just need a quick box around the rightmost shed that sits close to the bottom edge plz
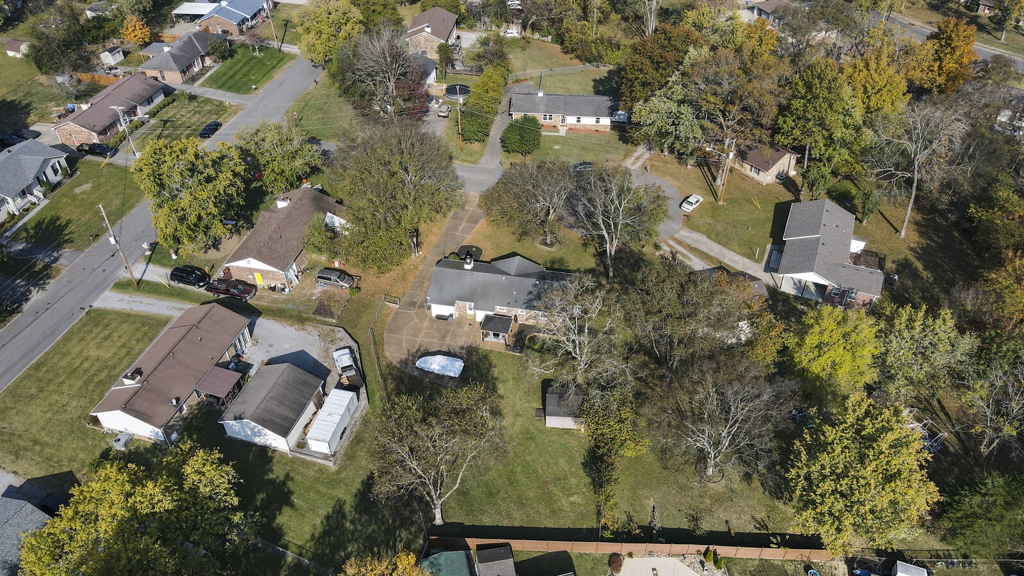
[476,545,516,576]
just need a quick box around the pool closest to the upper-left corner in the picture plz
[443,86,470,105]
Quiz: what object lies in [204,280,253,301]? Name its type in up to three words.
truck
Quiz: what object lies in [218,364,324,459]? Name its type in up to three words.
building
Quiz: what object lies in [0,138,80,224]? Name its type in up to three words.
house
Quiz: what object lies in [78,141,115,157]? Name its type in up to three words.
vehicle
